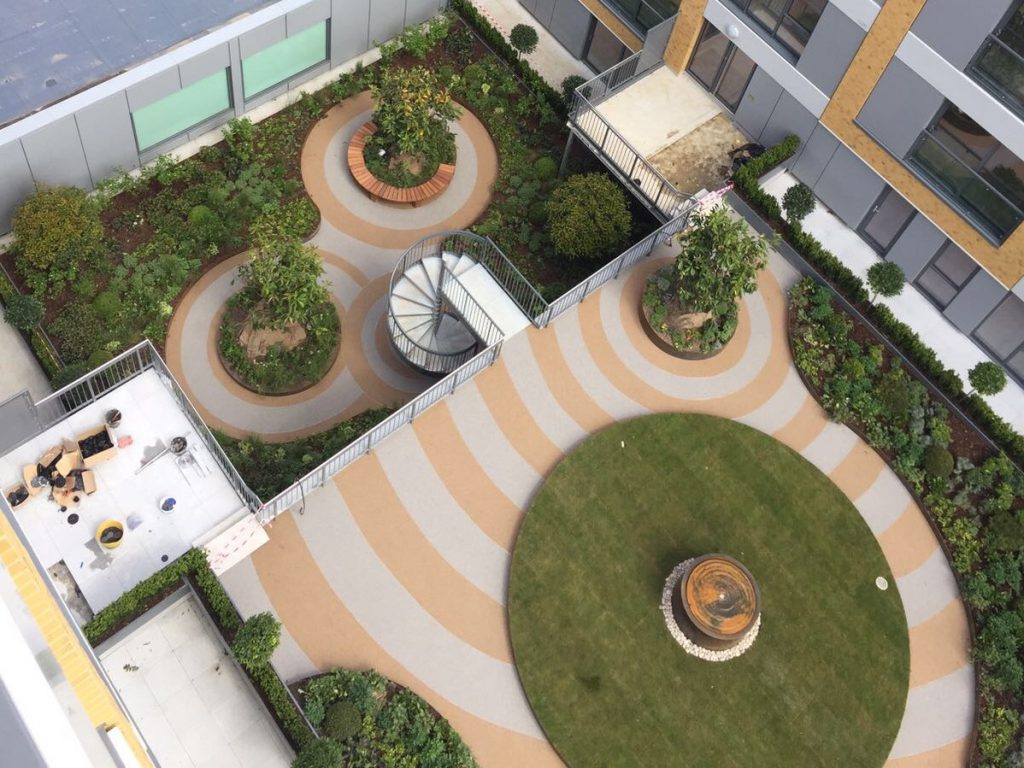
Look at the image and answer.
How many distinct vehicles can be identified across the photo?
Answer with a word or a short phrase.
0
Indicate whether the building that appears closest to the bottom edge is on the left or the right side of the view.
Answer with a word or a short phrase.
left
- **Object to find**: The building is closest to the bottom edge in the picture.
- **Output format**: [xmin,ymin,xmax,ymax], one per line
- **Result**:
[0,492,163,768]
